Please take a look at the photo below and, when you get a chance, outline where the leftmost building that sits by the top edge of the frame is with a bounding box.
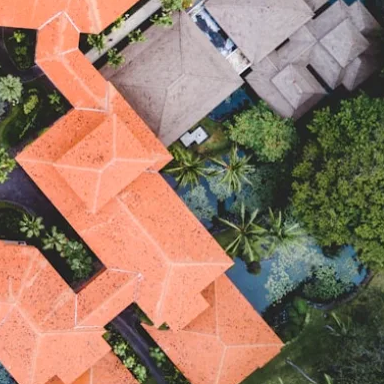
[100,9,244,144]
